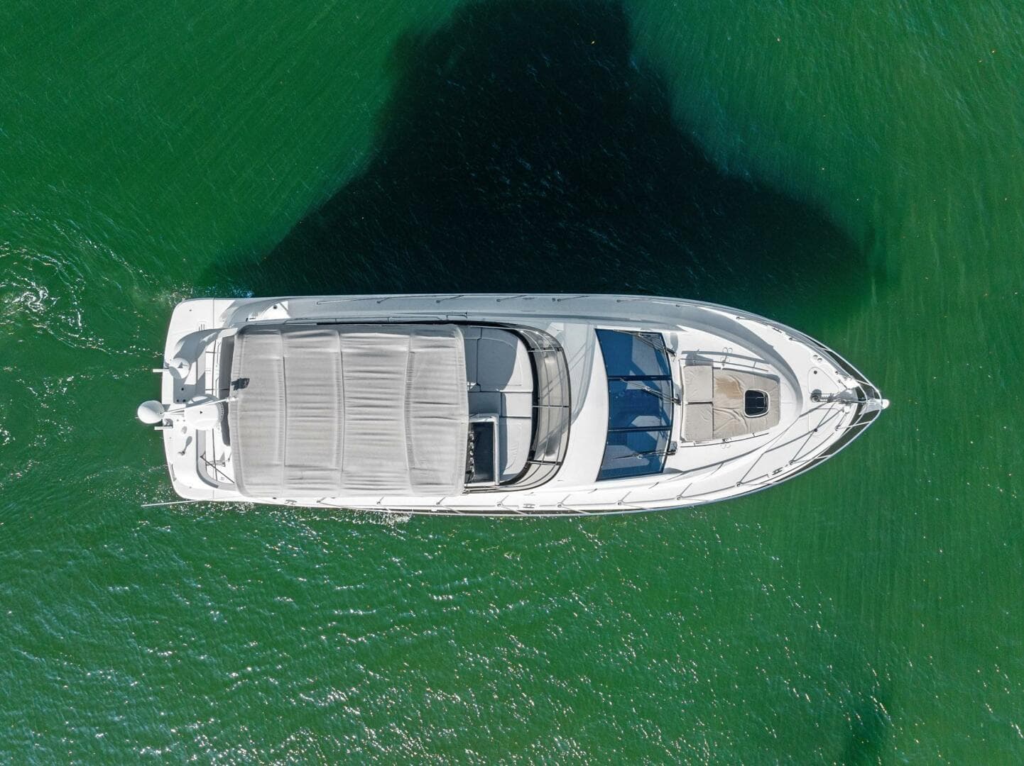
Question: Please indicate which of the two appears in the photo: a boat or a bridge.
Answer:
boat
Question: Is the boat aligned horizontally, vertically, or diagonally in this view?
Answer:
horizontally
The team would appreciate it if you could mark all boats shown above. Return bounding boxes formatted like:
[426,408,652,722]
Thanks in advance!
[133,293,893,517]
